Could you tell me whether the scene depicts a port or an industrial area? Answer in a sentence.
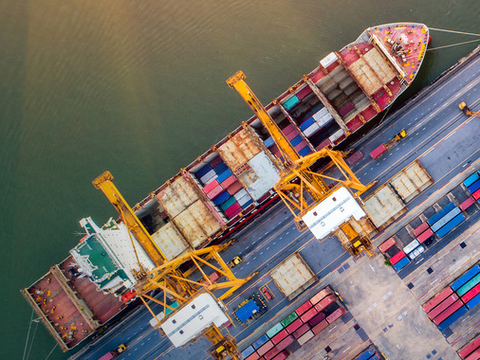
What you see here is a port.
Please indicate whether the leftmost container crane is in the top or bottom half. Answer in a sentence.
You can find the leftmost container crane in the bottom half.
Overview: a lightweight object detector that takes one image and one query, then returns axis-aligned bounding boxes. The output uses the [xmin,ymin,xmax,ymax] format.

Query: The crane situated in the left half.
[93,175,262,360]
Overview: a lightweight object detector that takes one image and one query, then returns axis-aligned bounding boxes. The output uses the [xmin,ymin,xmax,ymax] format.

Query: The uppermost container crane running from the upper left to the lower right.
[228,74,380,263]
